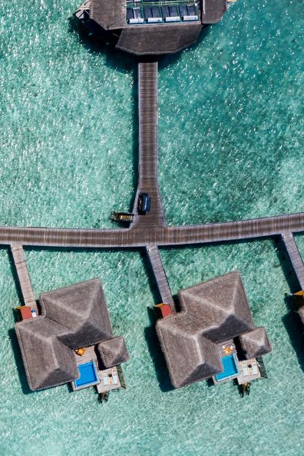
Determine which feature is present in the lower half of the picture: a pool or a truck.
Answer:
pool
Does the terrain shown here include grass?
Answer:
No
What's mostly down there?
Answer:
water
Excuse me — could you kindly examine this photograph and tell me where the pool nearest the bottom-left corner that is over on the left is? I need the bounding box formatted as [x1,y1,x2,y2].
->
[67,359,100,391]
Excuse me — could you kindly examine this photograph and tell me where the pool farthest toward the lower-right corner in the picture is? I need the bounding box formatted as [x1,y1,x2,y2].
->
[206,351,240,384]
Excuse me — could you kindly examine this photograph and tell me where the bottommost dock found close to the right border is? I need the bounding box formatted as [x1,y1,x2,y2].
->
[276,232,304,288]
